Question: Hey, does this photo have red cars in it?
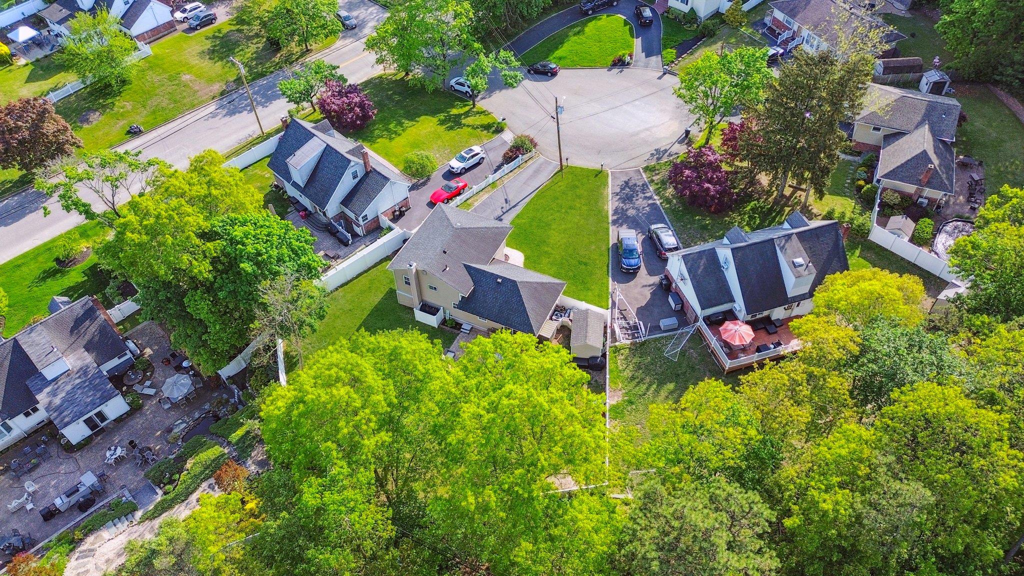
Yes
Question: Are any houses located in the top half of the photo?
Yes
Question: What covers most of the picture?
trees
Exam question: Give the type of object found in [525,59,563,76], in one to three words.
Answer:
car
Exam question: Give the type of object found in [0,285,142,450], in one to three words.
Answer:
house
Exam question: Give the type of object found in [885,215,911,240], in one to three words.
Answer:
shed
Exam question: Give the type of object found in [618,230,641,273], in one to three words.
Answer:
truck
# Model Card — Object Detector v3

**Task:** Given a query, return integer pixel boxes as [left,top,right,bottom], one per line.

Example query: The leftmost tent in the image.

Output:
[0,23,40,54]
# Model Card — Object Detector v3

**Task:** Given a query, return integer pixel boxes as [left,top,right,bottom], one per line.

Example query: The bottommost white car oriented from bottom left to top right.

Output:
[447,141,489,172]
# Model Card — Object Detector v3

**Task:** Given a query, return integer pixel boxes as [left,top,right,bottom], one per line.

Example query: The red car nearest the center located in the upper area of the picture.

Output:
[429,175,468,204]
